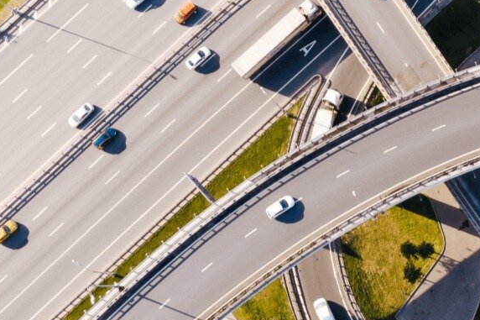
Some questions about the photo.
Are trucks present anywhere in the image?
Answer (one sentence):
Yes, the picture does show a truck.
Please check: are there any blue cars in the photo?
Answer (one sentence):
Yes, the photo shows a blue car.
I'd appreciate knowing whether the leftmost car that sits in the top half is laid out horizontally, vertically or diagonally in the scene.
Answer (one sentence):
The leftmost car that sits in the top half has been laid out diagonally relative to the frame.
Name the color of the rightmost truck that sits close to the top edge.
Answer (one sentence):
The color of the rightmost truck that sits close to the top edge is white.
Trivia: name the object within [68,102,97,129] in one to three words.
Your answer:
car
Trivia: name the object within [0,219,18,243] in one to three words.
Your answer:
car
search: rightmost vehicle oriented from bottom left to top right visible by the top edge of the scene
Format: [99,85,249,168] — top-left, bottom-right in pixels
[233,0,320,77]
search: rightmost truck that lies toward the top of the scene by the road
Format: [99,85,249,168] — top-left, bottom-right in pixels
[307,83,346,140]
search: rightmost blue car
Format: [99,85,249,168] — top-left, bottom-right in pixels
[91,126,119,152]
